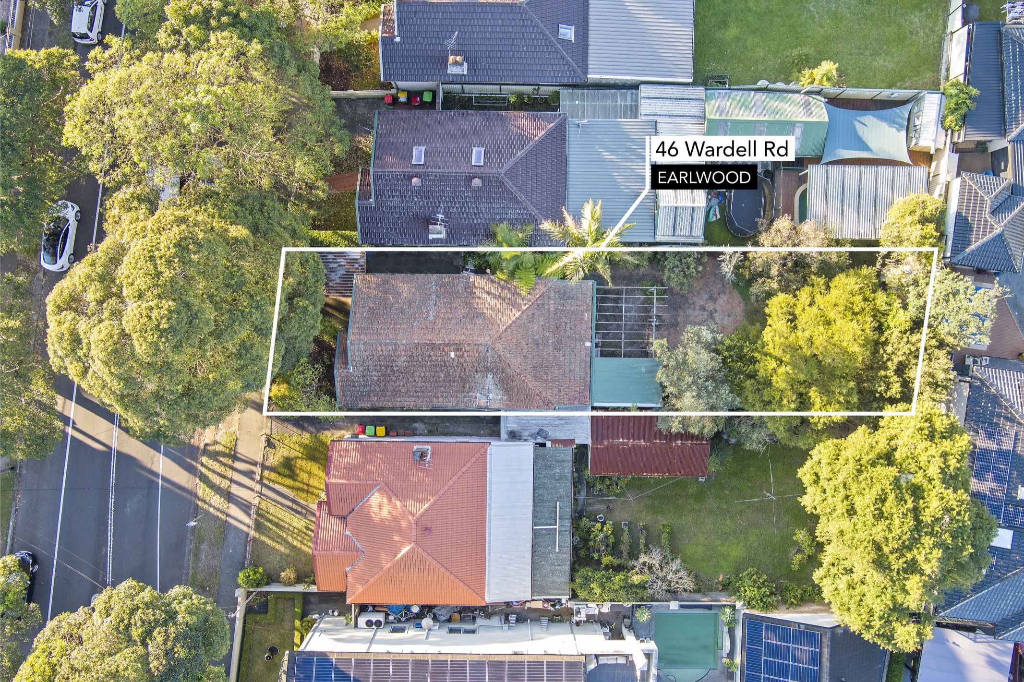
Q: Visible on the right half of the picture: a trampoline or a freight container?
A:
trampoline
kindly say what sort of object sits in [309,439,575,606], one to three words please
house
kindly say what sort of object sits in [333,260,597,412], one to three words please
house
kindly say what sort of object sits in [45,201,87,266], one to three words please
car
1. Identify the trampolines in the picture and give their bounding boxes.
[725,163,774,237]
